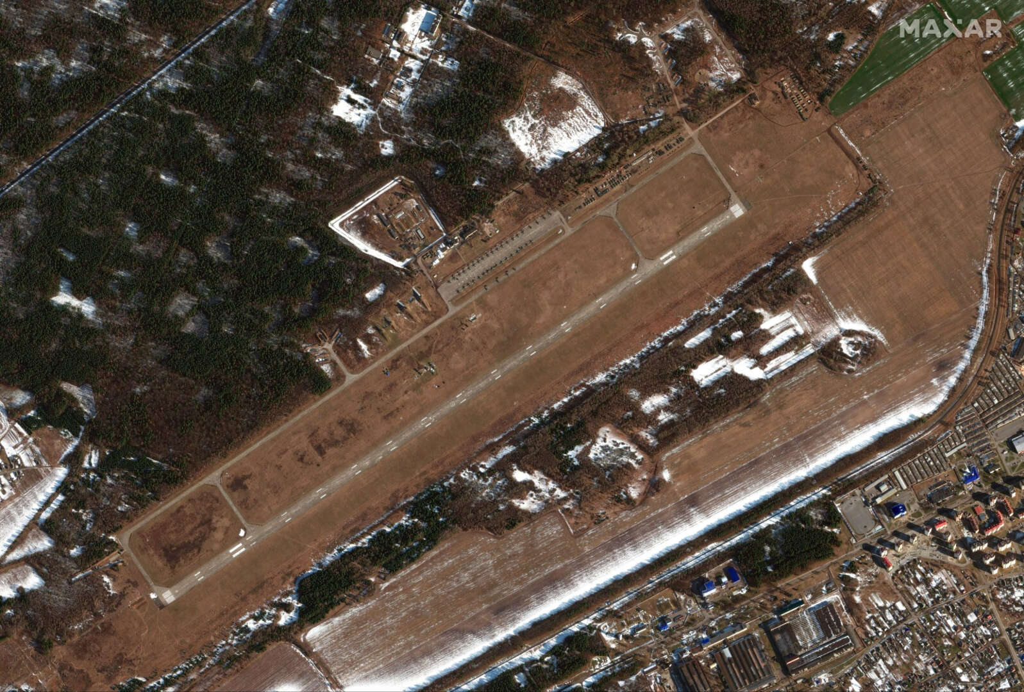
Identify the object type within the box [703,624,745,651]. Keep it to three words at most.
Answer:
building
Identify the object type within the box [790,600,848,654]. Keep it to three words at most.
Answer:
building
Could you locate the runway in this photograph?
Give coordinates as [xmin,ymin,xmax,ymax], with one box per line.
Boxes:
[158,201,747,608]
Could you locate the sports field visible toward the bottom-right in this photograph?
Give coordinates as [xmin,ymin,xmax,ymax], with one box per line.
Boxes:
[839,493,878,536]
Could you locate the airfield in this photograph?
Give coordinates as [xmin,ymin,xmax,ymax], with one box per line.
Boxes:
[0,90,872,680]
